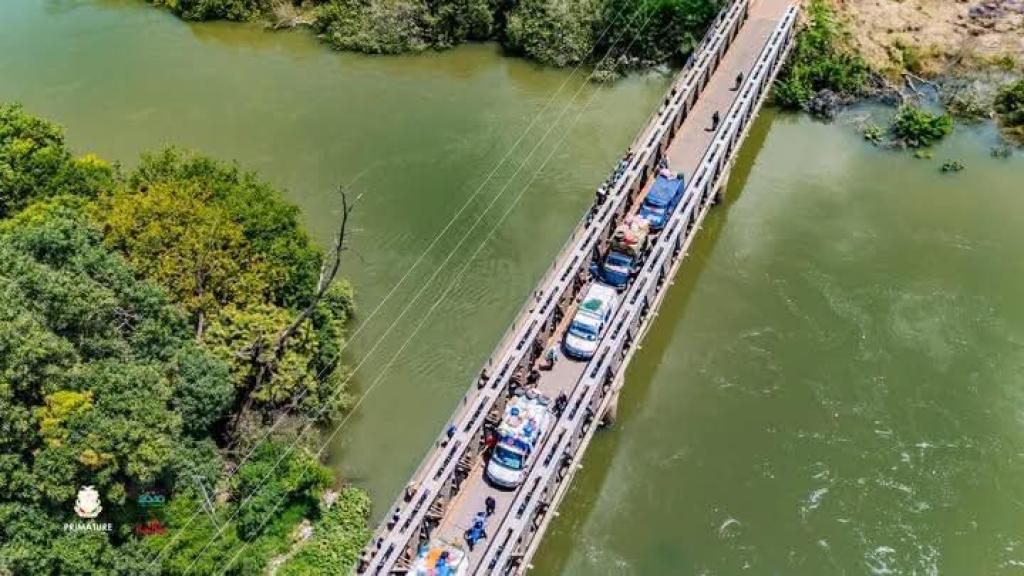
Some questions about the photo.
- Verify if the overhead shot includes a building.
No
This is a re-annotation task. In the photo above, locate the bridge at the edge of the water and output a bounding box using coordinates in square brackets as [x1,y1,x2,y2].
[344,0,811,576]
